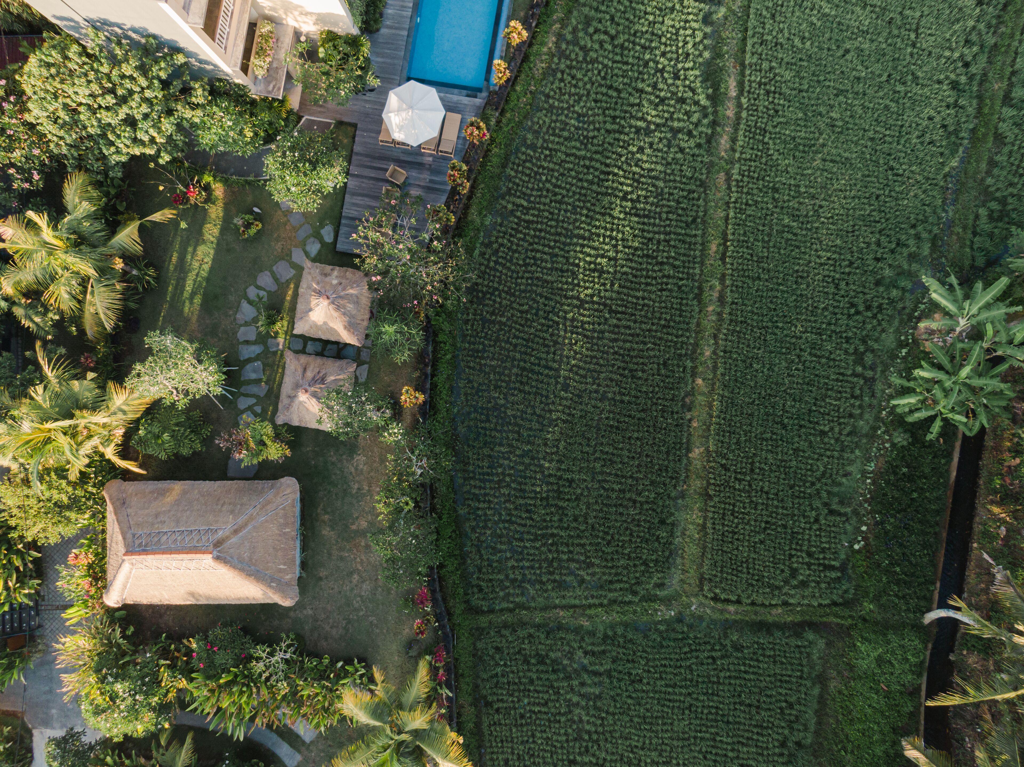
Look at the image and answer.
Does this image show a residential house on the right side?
No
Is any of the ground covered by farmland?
Yes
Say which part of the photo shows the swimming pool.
top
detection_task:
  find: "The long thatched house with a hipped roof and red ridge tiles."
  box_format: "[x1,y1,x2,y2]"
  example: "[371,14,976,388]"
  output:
[102,477,304,608]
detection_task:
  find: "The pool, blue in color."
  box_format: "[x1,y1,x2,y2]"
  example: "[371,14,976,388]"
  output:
[399,0,512,101]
